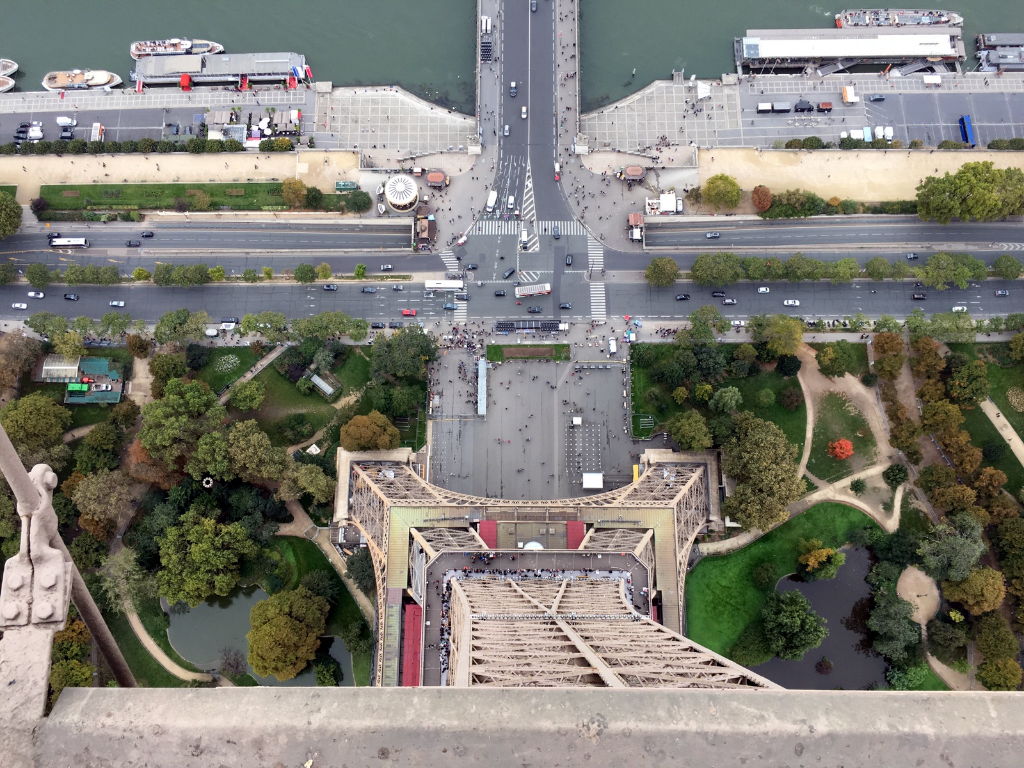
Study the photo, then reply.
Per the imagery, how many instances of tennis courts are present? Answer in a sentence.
Not a single tennis court can be seen.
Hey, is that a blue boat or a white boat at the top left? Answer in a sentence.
Visible at the top left is a white boat.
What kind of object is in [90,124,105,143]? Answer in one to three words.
vehicle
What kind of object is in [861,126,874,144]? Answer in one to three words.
vehicle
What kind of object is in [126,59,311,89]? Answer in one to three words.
pier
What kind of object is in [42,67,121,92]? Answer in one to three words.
boat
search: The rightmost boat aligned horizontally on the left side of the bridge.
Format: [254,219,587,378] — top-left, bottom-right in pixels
[128,36,226,59]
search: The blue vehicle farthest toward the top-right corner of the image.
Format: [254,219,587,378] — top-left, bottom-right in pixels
[958,112,977,145]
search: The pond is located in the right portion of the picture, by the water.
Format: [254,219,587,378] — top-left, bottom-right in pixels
[754,546,894,689]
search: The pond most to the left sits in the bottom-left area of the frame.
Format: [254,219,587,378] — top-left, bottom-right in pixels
[159,579,363,687]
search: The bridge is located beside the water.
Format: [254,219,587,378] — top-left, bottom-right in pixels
[476,0,580,154]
